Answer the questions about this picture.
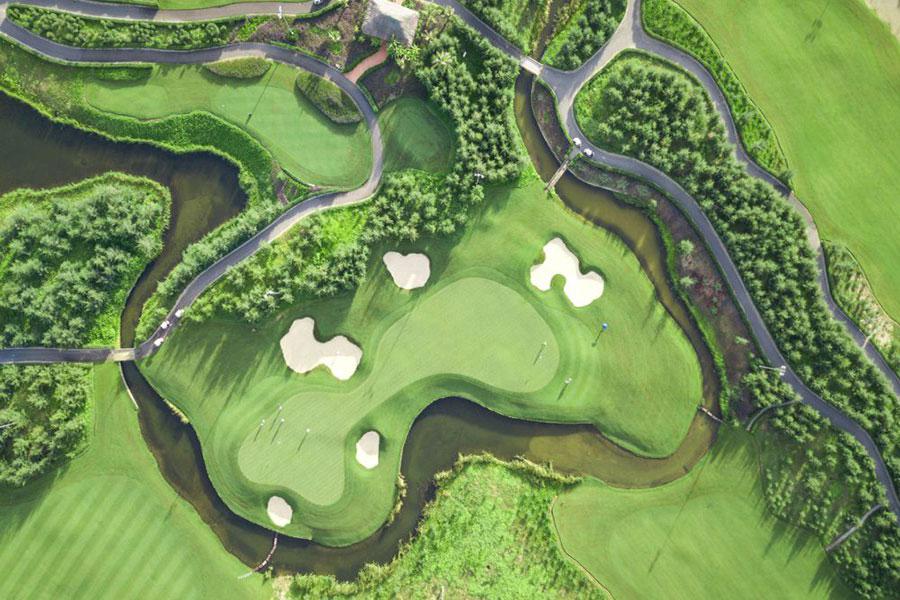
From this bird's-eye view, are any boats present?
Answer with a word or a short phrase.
No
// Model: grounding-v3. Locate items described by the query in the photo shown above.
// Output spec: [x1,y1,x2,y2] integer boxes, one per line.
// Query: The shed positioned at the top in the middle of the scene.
[360,0,419,47]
